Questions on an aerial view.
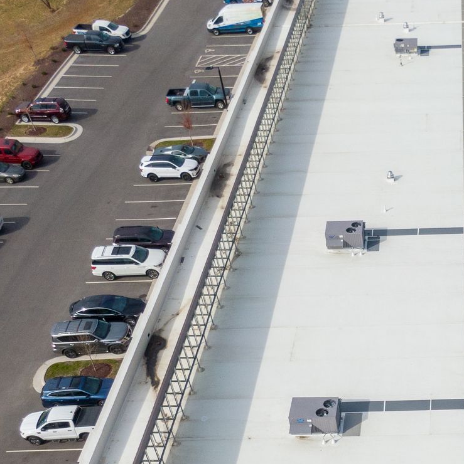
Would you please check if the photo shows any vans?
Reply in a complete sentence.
Yes, a van appears in the view.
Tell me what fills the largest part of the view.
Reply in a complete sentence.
The largest share of the image is taken up by buildings.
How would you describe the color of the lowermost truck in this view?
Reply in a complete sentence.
The lowermost truck is white.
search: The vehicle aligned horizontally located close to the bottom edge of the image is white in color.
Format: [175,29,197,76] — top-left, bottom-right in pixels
[15,407,102,446]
